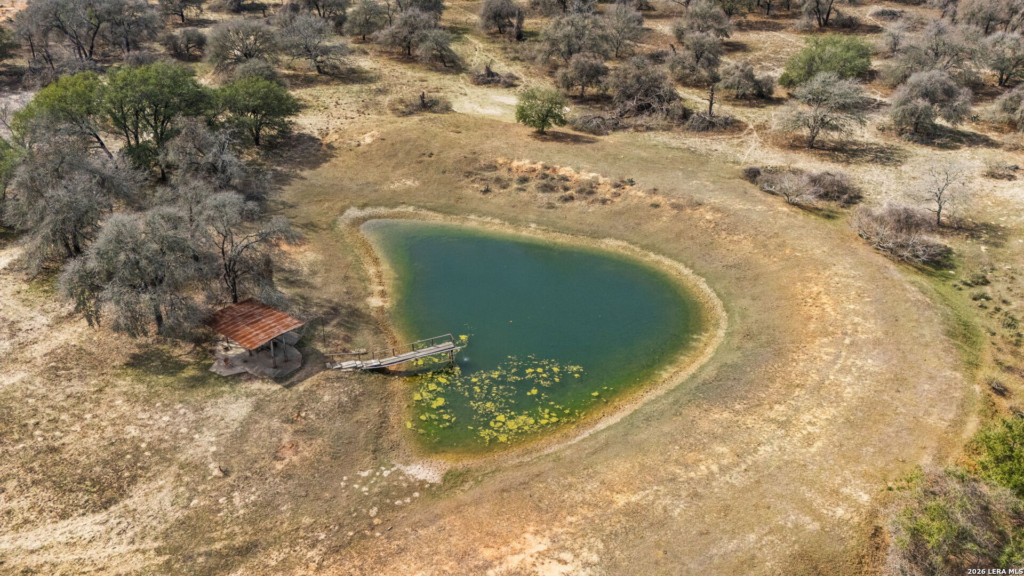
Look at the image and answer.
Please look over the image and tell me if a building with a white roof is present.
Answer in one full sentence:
No, there's no building with a white roof here.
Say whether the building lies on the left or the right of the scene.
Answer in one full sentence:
You can find the building on the left side of the picture.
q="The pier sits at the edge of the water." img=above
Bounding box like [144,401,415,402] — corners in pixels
[324,333,461,372]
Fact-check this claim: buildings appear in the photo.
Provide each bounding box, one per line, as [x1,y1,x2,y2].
[205,297,305,368]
